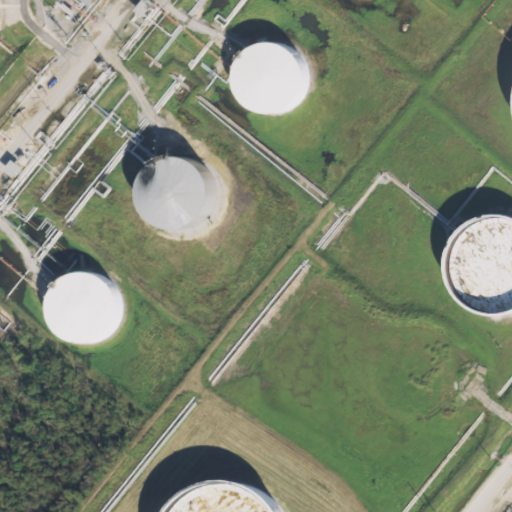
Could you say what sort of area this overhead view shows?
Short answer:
industrial area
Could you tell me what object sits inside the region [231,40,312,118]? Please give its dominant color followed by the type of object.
white storage tank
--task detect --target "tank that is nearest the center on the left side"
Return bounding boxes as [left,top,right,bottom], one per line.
[132,151,218,236]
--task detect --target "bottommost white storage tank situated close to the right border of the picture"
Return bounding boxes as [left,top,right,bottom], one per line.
[440,213,512,317]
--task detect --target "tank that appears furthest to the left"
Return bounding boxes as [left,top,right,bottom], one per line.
[42,270,122,346]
